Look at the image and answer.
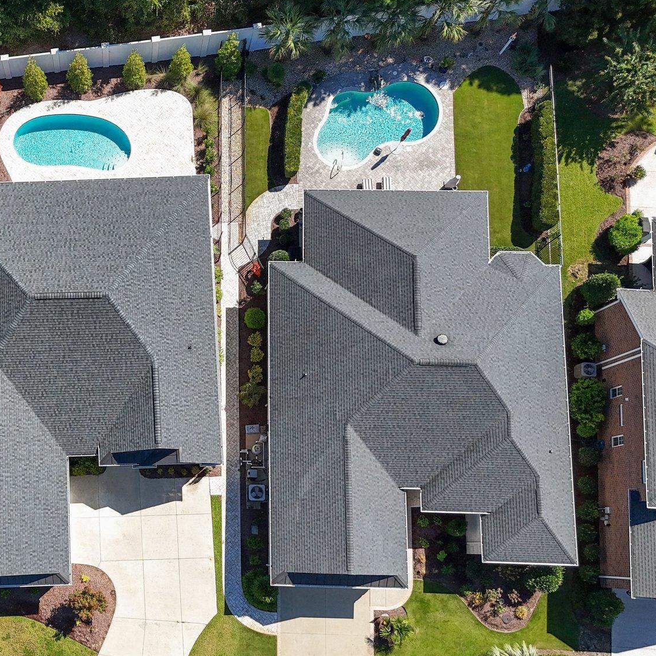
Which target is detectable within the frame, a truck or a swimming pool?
swimming pool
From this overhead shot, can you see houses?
Yes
